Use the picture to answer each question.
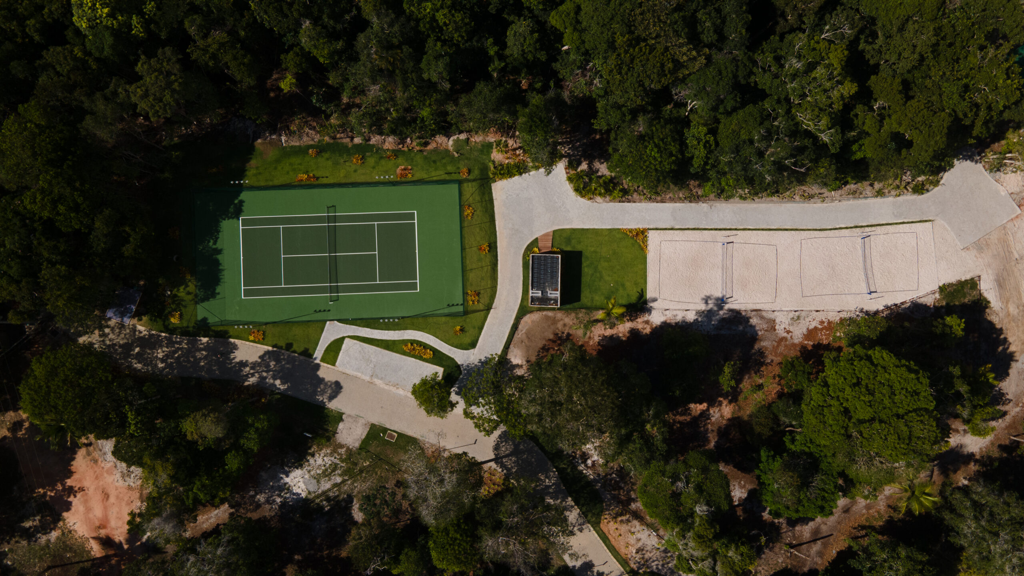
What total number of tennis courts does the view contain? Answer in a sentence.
In total, there are 3 tennis courts in the scene.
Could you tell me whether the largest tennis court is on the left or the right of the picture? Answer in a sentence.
It is on the left.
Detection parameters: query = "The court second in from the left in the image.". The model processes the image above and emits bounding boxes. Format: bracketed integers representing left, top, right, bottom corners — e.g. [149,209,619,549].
[647,230,789,310]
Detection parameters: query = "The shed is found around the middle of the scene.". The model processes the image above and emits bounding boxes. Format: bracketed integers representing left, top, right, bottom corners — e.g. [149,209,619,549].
[529,255,560,307]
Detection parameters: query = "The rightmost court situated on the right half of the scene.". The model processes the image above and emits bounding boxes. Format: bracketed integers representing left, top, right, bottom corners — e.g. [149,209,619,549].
[789,221,938,310]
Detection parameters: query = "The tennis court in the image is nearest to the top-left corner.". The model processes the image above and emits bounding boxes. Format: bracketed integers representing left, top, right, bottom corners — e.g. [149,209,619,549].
[196,183,463,326]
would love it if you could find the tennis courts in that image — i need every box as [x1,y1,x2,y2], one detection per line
[789,221,938,310]
[647,230,789,310]
[196,183,463,326]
